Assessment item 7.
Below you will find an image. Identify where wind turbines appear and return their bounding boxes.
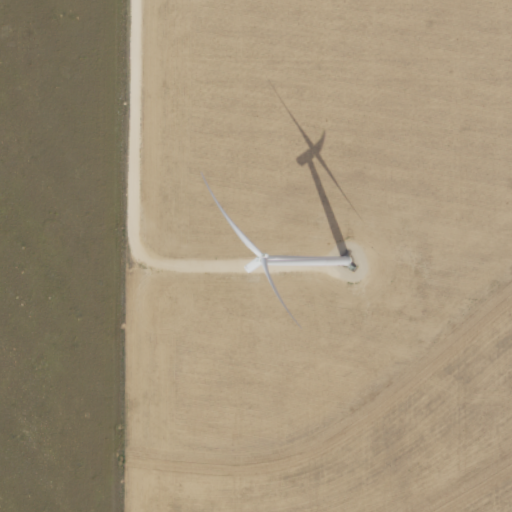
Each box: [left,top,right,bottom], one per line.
[202,180,354,332]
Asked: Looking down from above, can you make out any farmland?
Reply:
Yes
